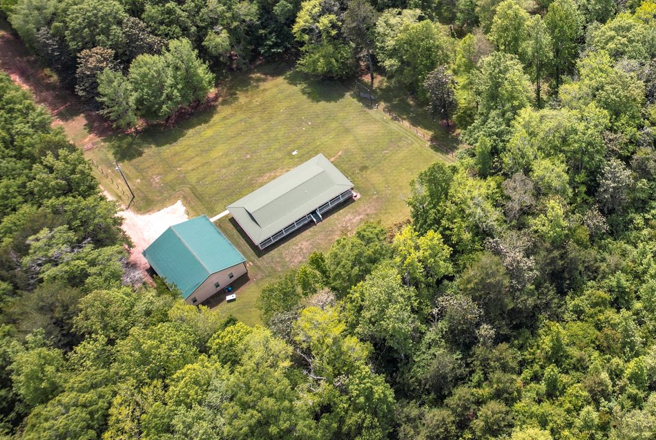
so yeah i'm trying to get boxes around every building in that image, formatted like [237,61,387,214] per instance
[226,153,354,252]
[144,215,252,310]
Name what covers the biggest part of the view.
trees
